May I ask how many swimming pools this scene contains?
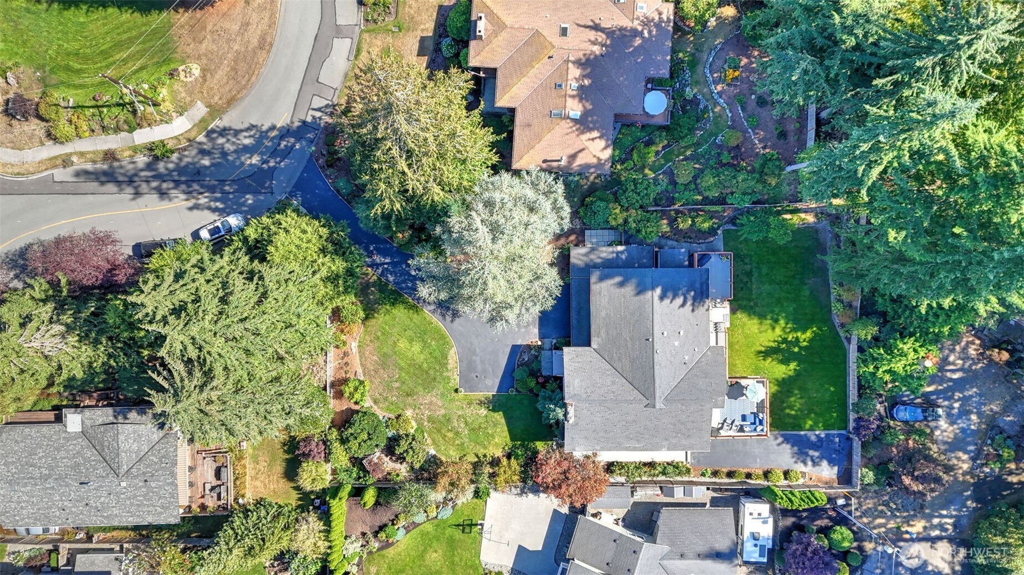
0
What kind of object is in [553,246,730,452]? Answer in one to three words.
house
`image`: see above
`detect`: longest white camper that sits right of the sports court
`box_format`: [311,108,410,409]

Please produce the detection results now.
[736,487,773,561]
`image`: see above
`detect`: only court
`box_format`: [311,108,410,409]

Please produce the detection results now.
[481,492,568,575]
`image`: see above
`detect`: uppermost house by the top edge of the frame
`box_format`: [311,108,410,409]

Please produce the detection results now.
[468,0,673,174]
